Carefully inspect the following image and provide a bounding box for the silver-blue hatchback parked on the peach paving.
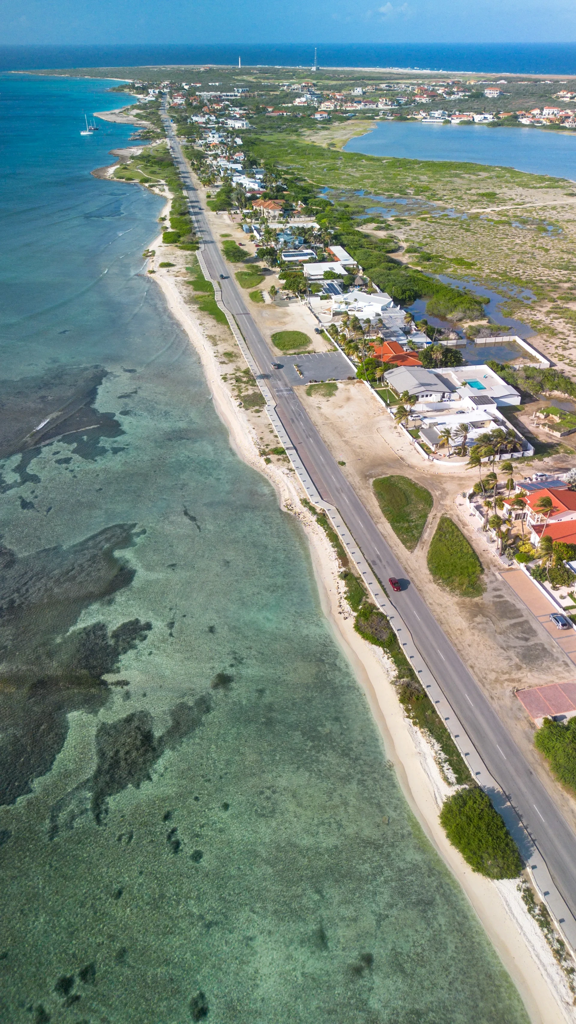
[547,611,571,629]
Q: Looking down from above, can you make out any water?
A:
Yes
